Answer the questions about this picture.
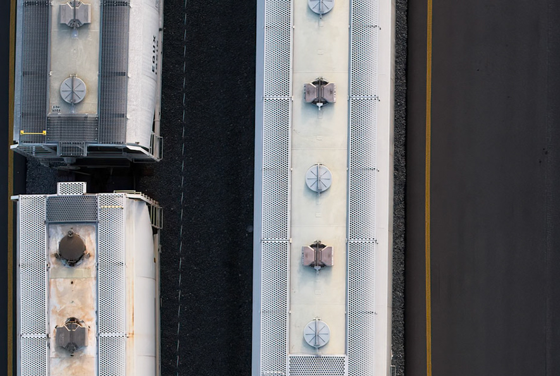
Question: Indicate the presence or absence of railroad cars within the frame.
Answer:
Yes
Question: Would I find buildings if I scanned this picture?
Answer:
No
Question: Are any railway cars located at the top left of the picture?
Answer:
Yes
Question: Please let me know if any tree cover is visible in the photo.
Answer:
No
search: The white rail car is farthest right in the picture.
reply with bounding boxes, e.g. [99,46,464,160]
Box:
[254,0,401,376]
